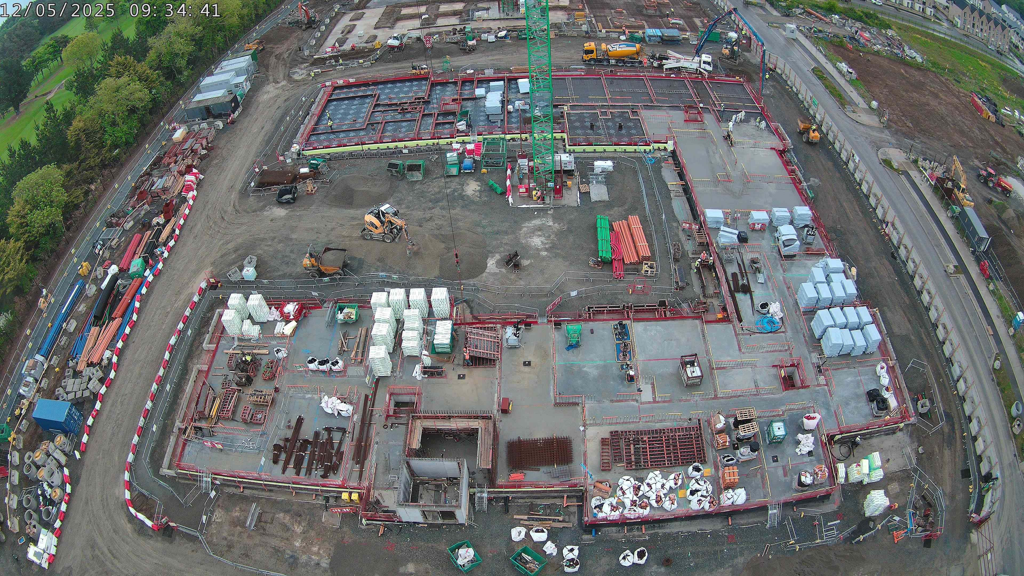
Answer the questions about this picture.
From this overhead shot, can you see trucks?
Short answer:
Yes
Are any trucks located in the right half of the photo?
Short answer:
Yes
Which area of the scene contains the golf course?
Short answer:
top left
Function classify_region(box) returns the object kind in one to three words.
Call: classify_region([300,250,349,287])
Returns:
truck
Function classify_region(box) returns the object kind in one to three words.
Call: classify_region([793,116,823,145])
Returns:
truck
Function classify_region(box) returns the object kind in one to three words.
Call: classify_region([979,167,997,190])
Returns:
work vehicle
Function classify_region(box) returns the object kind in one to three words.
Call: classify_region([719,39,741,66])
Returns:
work vehicle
